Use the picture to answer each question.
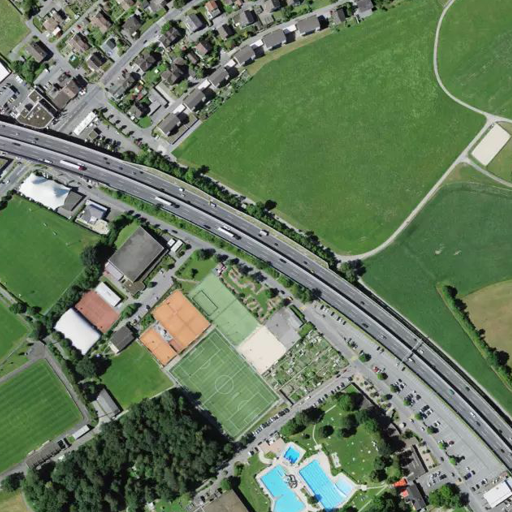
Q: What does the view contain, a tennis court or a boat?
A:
tennis court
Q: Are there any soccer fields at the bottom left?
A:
Yes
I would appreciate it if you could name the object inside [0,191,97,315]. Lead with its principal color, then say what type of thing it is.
green soccer field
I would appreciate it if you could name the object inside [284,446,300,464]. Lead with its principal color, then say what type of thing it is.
blue swimming pool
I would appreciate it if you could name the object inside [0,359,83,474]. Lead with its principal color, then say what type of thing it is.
green soccer field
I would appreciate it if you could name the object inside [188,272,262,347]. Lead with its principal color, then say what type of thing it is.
green sports court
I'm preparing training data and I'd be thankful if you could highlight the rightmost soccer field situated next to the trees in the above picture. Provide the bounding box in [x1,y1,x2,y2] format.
[170,330,280,440]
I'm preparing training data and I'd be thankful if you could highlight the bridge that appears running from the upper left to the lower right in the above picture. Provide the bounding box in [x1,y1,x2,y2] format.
[0,138,512,474]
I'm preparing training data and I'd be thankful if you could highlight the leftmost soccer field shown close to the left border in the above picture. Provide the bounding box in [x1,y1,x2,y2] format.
[0,300,29,360]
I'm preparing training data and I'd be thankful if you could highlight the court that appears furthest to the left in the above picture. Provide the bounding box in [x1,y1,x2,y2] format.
[75,290,120,332]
